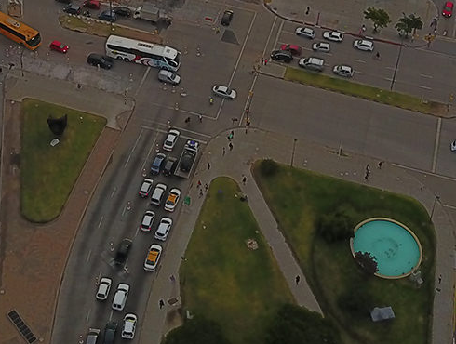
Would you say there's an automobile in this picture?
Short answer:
Yes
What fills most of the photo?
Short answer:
paved ground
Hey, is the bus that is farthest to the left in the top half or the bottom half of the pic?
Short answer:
top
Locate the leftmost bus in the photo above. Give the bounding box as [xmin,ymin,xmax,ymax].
[0,6,40,48]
